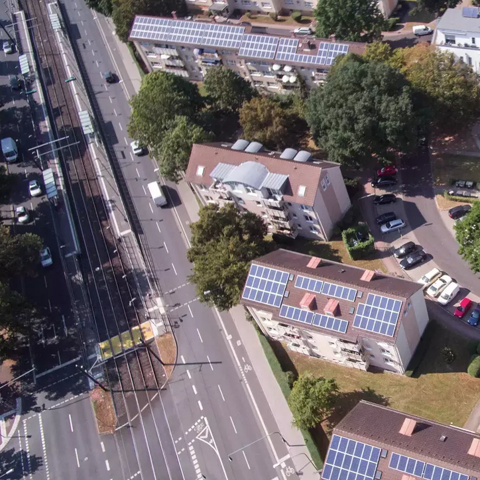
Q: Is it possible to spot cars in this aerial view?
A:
Yes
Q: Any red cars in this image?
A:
Yes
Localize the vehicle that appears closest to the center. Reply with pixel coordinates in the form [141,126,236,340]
[146,179,168,207]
